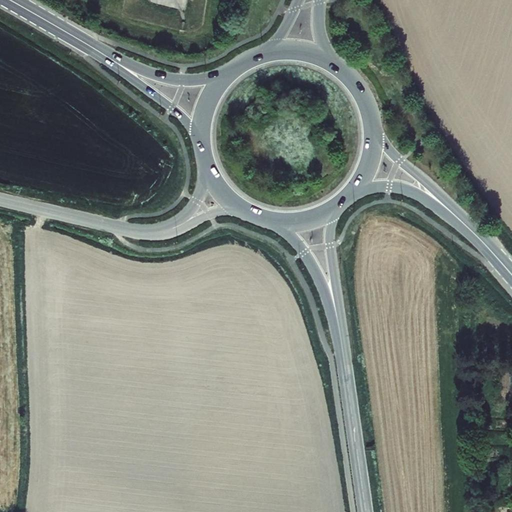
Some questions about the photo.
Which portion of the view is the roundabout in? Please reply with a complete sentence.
The roundabout appears toward the top of the photo.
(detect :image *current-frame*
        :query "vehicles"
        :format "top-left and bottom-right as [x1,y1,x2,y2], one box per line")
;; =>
[154,71,166,78]
[354,174,362,185]
[356,81,365,92]
[173,108,183,118]
[364,138,370,148]
[146,88,156,97]
[104,58,114,66]
[252,206,263,214]
[329,63,340,72]
[208,72,218,77]
[253,54,264,60]
[210,164,220,178]
[112,53,123,62]
[338,196,345,207]
[196,140,204,152]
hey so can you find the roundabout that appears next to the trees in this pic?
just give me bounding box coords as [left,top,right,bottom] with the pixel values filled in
[190,38,384,234]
